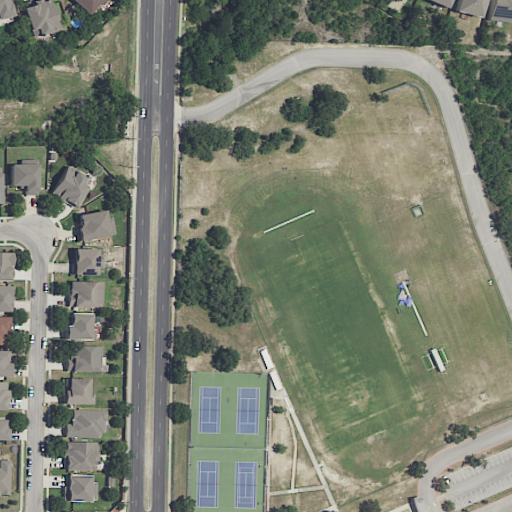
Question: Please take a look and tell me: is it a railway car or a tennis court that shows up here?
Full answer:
The one in the frame is a tennis court.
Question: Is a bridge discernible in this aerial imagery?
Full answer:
No, there's no bridge here.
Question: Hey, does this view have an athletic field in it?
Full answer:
Yes, I can see an athletic field in this picture.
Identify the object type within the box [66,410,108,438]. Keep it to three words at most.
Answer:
house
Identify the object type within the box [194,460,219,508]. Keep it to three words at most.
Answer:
tennis court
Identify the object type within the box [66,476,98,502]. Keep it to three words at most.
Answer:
house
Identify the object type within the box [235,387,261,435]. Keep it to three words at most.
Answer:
tennis court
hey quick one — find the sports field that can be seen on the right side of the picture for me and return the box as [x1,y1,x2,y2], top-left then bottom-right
[233,182,411,454]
